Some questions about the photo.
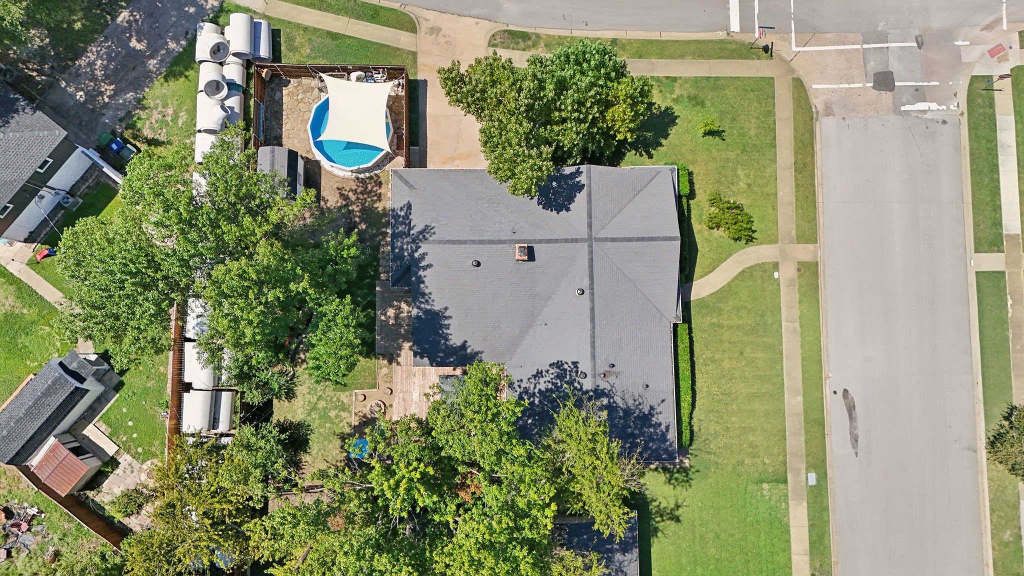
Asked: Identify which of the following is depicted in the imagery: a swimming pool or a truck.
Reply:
swimming pool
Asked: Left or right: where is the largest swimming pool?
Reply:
left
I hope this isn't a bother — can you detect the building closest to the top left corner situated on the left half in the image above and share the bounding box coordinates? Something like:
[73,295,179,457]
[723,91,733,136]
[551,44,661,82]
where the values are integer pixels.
[0,69,99,241]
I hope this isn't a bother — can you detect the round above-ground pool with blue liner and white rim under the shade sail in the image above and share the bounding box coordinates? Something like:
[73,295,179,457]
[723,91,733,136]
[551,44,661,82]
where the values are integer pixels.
[307,95,396,174]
